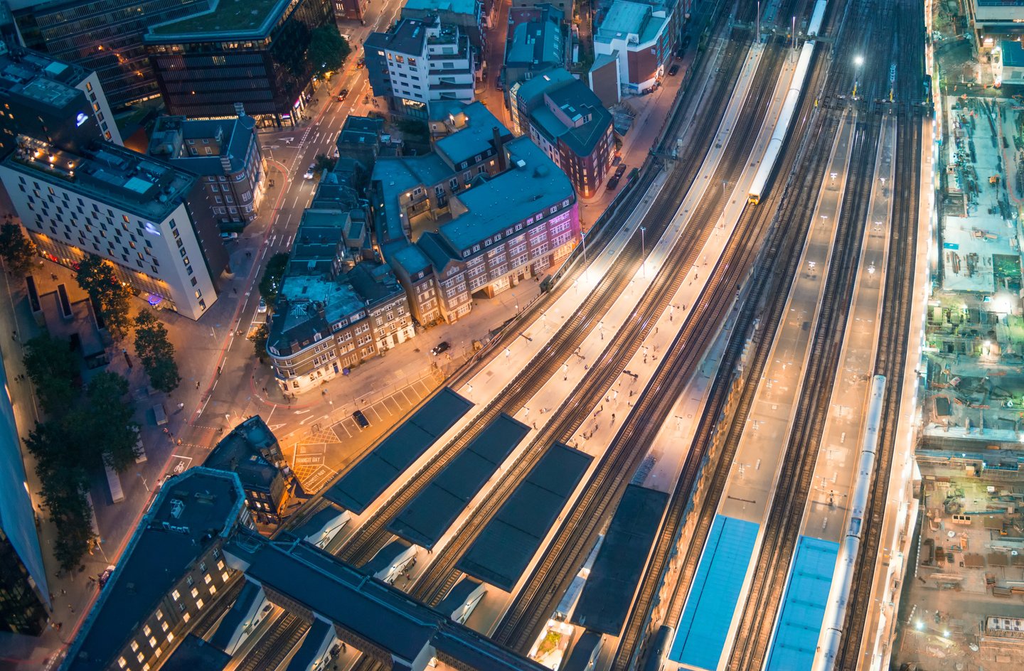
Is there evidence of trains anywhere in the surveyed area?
Yes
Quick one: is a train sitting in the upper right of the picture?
Yes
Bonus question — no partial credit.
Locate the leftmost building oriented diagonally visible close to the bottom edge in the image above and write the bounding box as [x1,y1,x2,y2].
[55,465,257,671]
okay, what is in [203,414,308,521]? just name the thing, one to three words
building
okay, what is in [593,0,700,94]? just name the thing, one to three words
building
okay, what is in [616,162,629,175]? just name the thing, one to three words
vehicle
